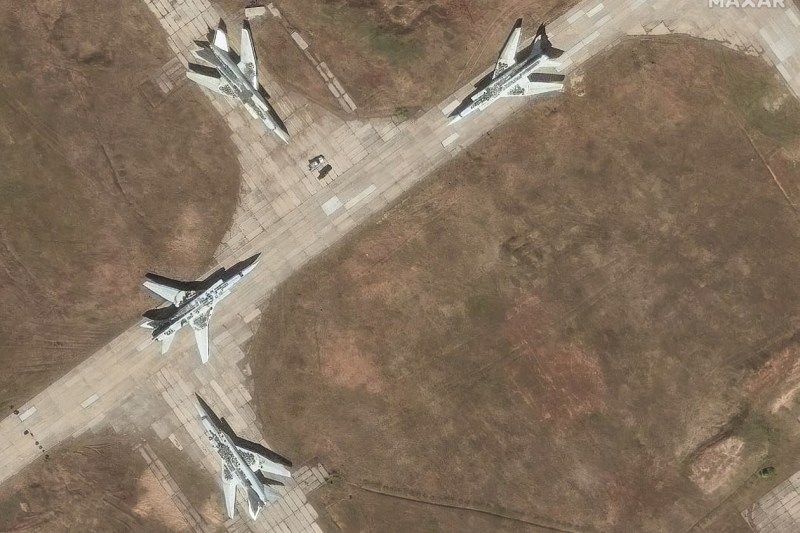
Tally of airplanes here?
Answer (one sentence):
Altogether the scene contains 4 airplanes.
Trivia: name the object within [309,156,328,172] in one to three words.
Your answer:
vehicle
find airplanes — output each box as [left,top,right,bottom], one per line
[140,260,259,365]
[195,399,292,518]
[448,26,566,125]
[184,28,288,143]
